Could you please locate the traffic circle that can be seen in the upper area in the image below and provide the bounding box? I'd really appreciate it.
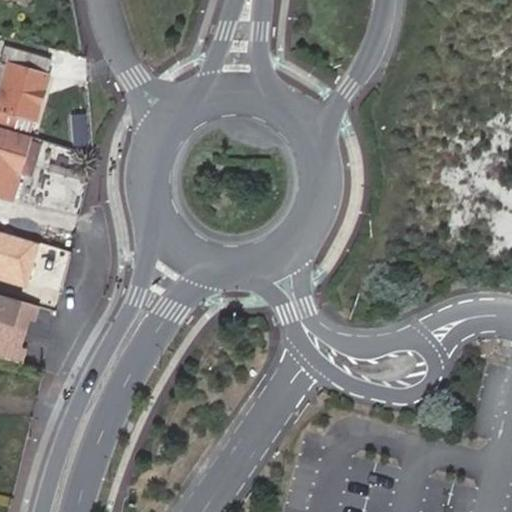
[126,68,344,296]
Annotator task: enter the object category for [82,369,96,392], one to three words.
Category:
car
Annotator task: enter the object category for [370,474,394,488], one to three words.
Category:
vehicle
